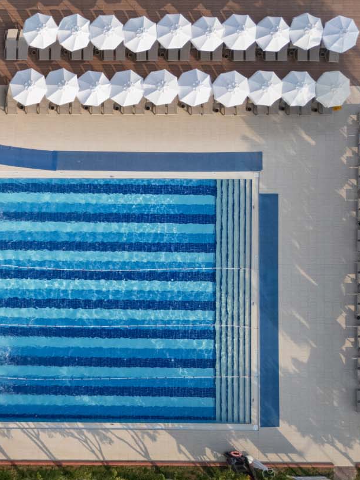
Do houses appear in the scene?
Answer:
No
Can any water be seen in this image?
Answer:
Yes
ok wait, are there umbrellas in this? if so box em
[280,72,316,106]
[253,17,288,50]
[121,17,156,52]
[89,16,123,51]
[177,71,211,105]
[55,17,89,51]
[186,16,224,51]
[212,72,247,106]
[77,72,110,106]
[247,72,281,105]
[141,71,176,105]
[108,71,142,105]
[312,75,346,106]
[320,17,357,52]
[44,70,78,104]
[154,14,189,48]
[22,14,57,48]
[10,70,44,104]
[223,16,255,51]
[285,14,324,48]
